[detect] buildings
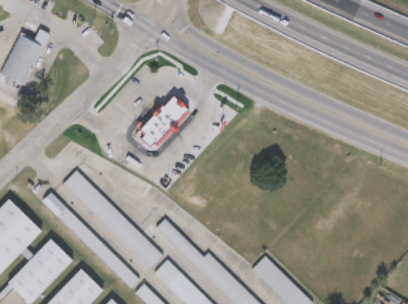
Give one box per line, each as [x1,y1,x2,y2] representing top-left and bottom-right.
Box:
[7,238,74,304]
[2,28,50,84]
[65,170,164,268]
[156,258,216,304]
[156,218,266,304]
[46,196,141,288]
[46,268,104,304]
[254,256,313,304]
[0,199,43,275]
[136,97,188,144]
[135,282,168,304]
